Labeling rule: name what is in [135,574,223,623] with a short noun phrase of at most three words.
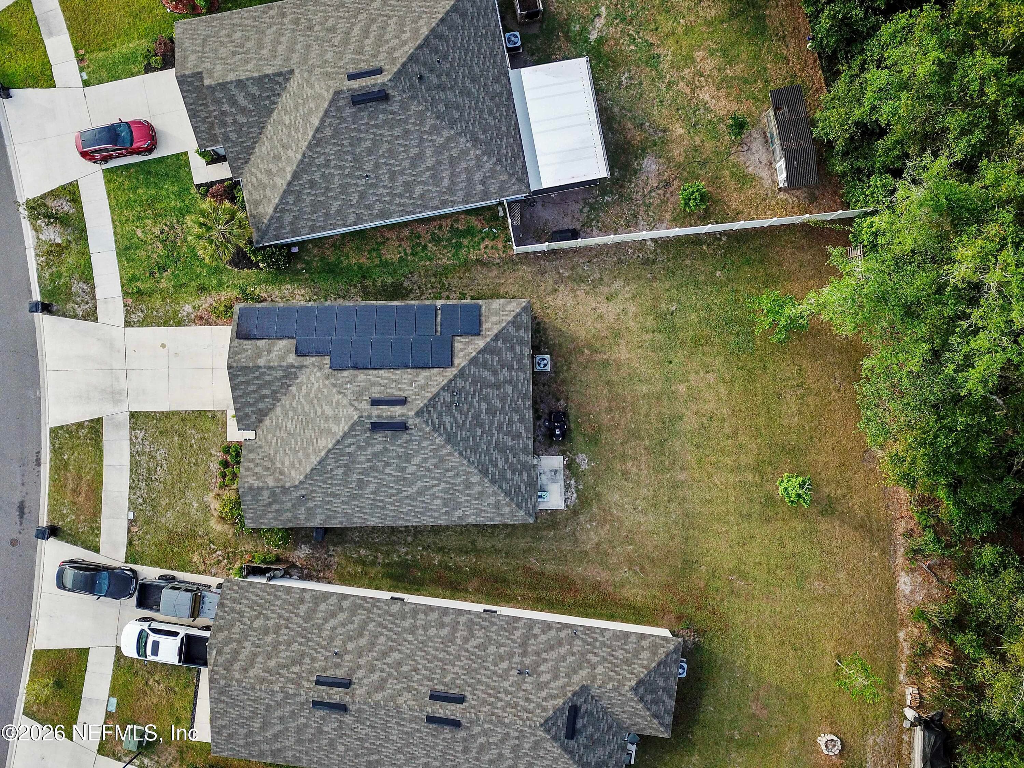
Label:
truck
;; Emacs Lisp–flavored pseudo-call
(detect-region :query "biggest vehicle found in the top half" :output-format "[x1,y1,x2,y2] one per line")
[75,116,157,164]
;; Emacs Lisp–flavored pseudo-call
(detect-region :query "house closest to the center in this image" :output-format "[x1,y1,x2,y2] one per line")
[226,299,536,528]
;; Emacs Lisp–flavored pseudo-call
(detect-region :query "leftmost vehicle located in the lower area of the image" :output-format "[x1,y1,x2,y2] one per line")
[53,559,139,605]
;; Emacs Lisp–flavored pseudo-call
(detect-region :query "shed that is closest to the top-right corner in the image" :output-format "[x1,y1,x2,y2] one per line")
[763,84,820,197]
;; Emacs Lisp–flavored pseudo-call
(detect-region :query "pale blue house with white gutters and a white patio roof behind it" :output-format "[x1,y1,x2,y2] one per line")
[174,0,532,249]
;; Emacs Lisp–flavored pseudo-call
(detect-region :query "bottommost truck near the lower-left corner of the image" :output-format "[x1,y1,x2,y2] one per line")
[119,616,211,671]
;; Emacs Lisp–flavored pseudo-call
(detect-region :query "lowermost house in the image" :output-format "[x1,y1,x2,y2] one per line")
[206,574,683,768]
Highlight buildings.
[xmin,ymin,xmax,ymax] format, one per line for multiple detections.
[174,0,532,249]
[226,299,536,528]
[763,84,820,197]
[206,574,683,768]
